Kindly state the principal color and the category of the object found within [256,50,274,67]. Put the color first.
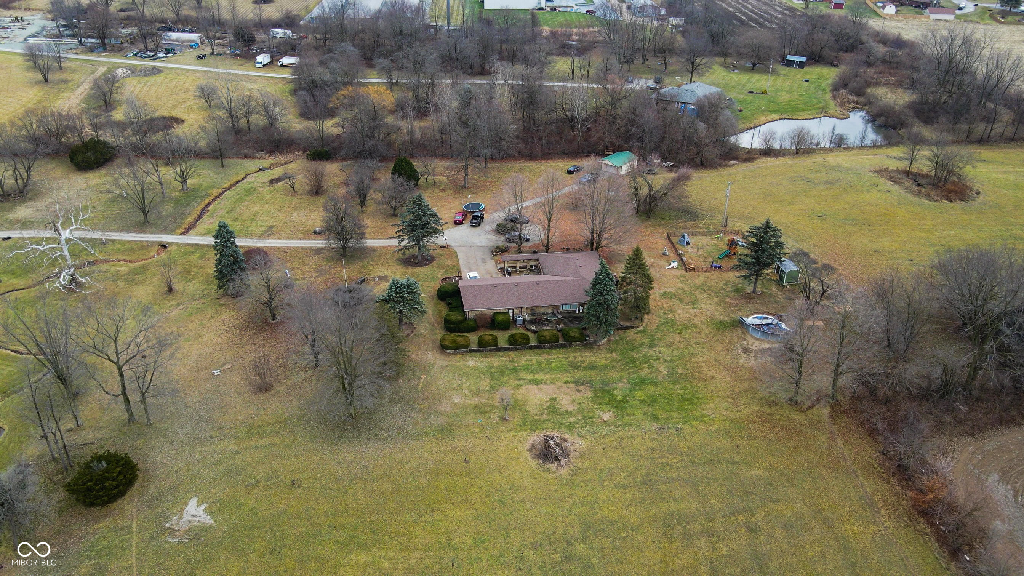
white vehicle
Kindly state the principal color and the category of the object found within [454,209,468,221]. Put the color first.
red vehicle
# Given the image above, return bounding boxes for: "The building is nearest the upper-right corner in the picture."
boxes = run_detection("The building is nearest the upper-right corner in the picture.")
[925,7,957,20]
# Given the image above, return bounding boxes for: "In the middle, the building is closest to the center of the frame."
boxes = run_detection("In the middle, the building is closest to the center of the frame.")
[460,250,620,322]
